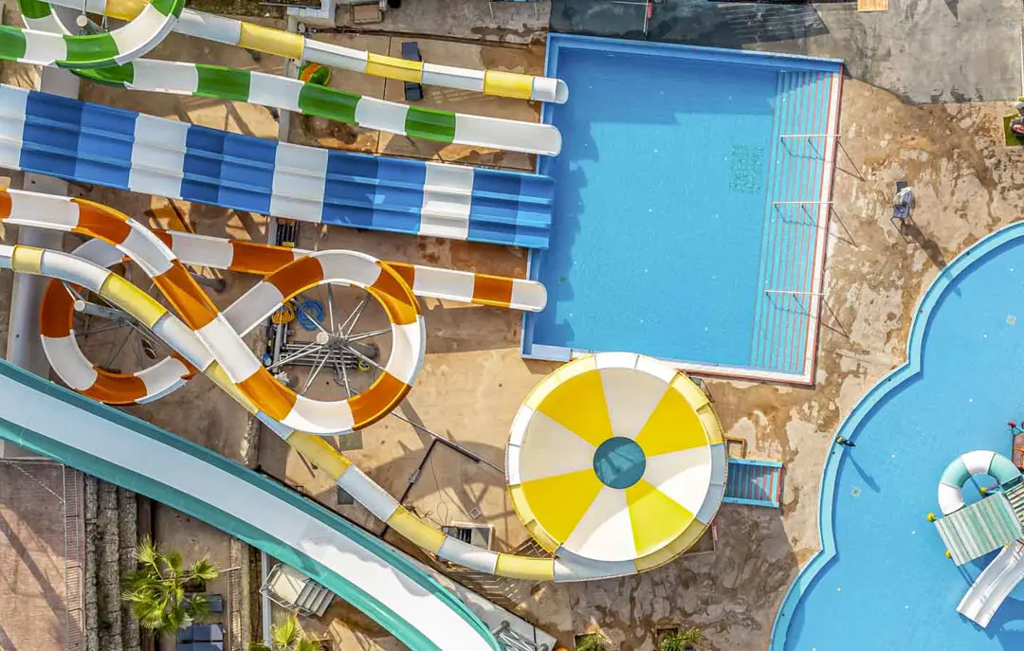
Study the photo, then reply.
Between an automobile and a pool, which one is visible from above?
pool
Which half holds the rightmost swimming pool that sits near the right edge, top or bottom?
bottom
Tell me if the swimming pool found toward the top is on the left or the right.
right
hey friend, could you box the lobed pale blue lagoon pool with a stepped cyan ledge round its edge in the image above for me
[771,222,1024,651]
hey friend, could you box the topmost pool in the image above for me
[521,28,843,384]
